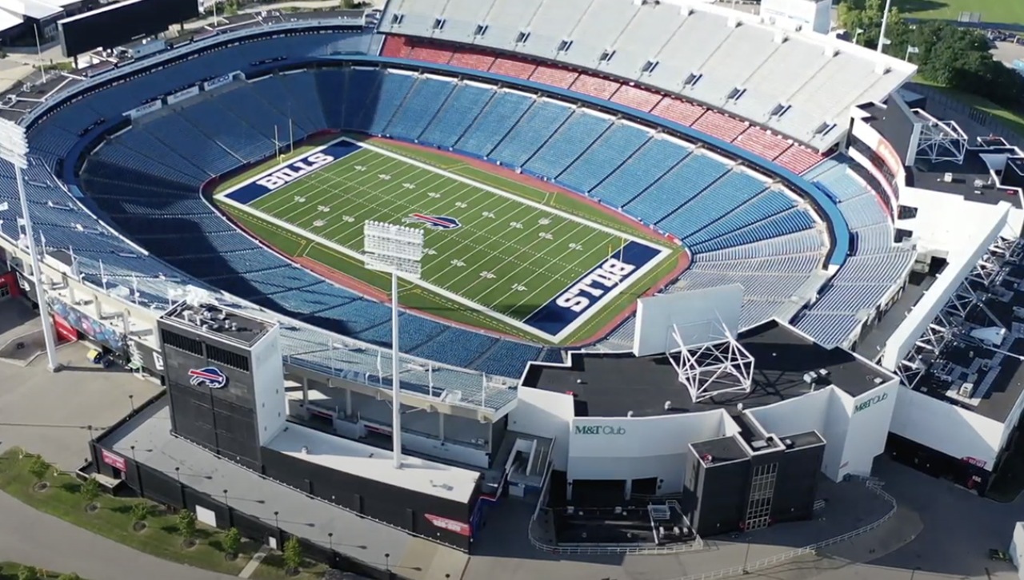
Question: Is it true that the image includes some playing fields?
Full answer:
Yes, there's a playing field down there.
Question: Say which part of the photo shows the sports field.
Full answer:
Look in the center portion of the view to spot the sports field.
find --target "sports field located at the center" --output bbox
[208,133,674,344]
